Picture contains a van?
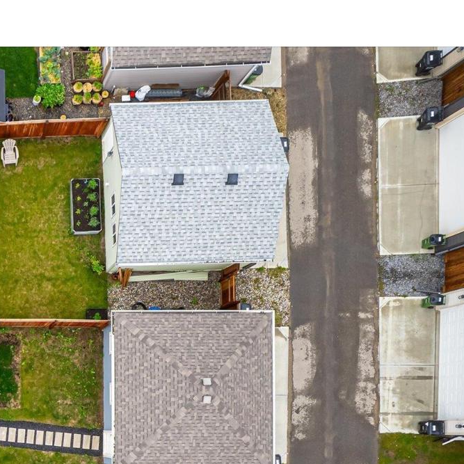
No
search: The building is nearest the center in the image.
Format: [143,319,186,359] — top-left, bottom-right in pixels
[100,98,289,274]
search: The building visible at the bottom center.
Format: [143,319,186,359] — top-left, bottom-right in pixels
[93,308,277,464]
